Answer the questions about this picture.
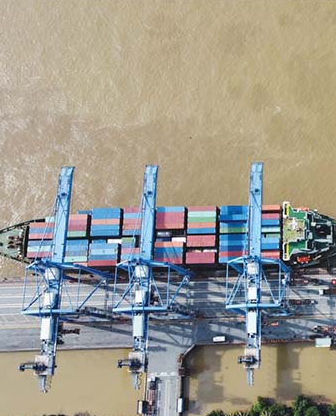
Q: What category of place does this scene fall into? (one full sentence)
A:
It's a port.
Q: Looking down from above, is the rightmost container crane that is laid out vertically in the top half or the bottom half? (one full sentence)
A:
The bottom half of the photo is where the rightmost container crane that is laid out vertically is.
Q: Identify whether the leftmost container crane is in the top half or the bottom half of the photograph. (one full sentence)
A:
The leftmost container crane is in the bottom half of the image.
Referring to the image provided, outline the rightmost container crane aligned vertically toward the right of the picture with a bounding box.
[225,162,297,386]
